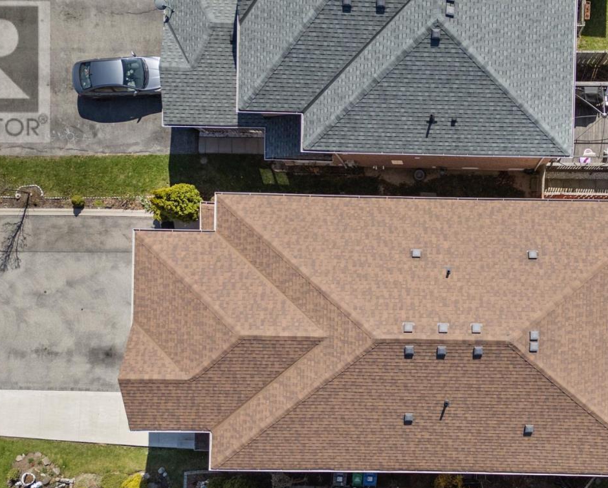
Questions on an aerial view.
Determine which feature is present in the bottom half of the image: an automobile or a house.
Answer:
house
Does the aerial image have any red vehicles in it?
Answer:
No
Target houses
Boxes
[118,193,608,477]
[160,0,574,171]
